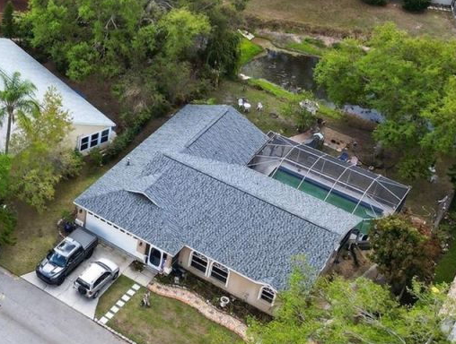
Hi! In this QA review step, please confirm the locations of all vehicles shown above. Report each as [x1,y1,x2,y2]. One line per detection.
[72,247,124,292]
[37,221,109,277]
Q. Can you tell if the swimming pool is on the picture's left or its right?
right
